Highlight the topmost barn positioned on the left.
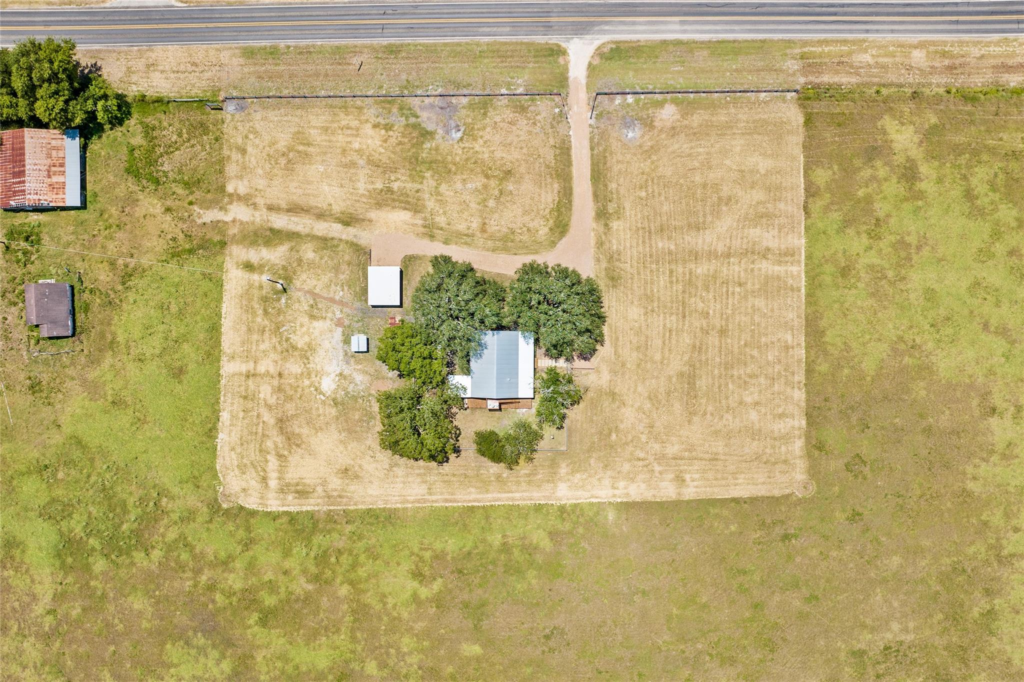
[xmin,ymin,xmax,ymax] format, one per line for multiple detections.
[0,129,91,211]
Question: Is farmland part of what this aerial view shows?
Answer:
Yes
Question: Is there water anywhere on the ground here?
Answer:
No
